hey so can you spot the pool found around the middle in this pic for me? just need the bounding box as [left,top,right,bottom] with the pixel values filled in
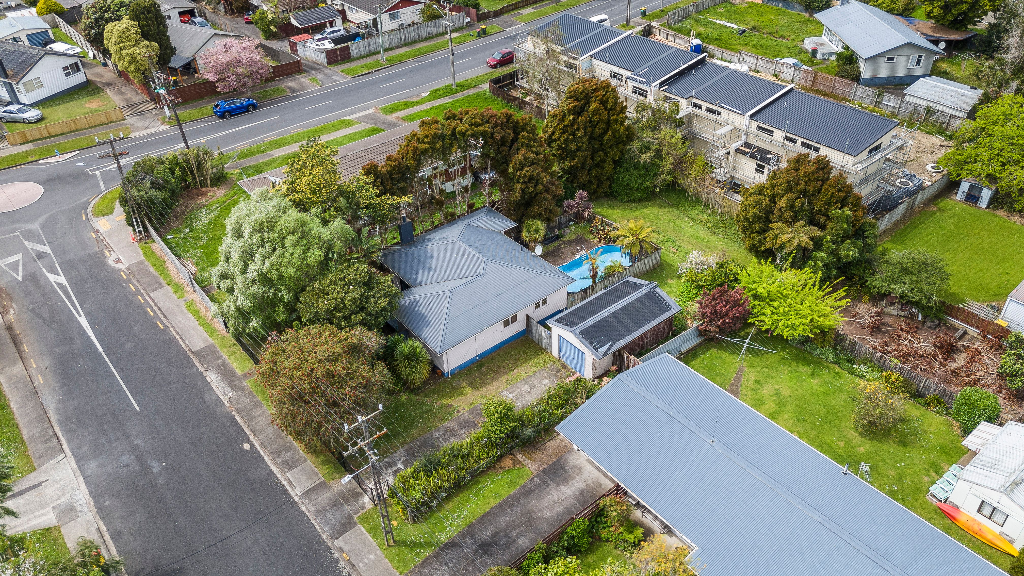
[557,242,636,303]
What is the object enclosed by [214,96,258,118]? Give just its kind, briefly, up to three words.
car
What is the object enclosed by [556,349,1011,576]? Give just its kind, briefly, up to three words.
house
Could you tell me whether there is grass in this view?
Yes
